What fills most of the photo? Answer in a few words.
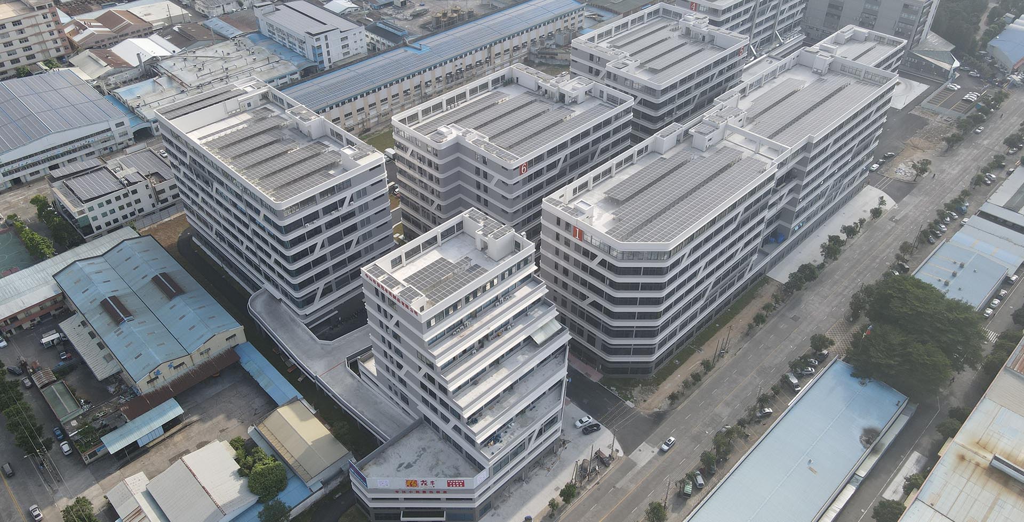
buildings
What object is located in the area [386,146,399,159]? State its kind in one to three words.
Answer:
vehicle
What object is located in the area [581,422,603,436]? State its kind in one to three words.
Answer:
car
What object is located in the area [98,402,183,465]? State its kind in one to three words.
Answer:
shed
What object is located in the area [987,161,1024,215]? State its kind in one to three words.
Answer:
building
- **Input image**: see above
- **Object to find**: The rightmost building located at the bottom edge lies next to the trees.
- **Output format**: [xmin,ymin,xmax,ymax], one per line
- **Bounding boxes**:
[893,341,1024,522]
